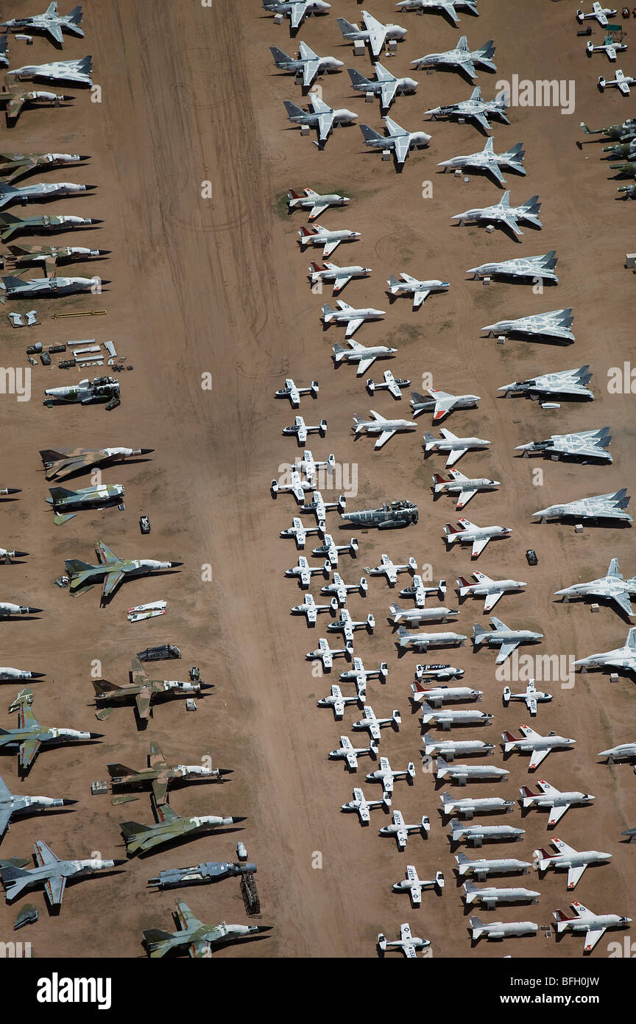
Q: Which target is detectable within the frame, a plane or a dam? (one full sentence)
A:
Looking from above, you can make out a plane.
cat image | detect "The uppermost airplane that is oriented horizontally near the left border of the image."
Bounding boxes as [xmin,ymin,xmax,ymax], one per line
[0,6,85,44]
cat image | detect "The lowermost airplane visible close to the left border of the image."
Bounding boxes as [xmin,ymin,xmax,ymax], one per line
[0,837,127,902]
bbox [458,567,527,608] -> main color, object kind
white airplane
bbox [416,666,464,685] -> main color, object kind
white airplane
